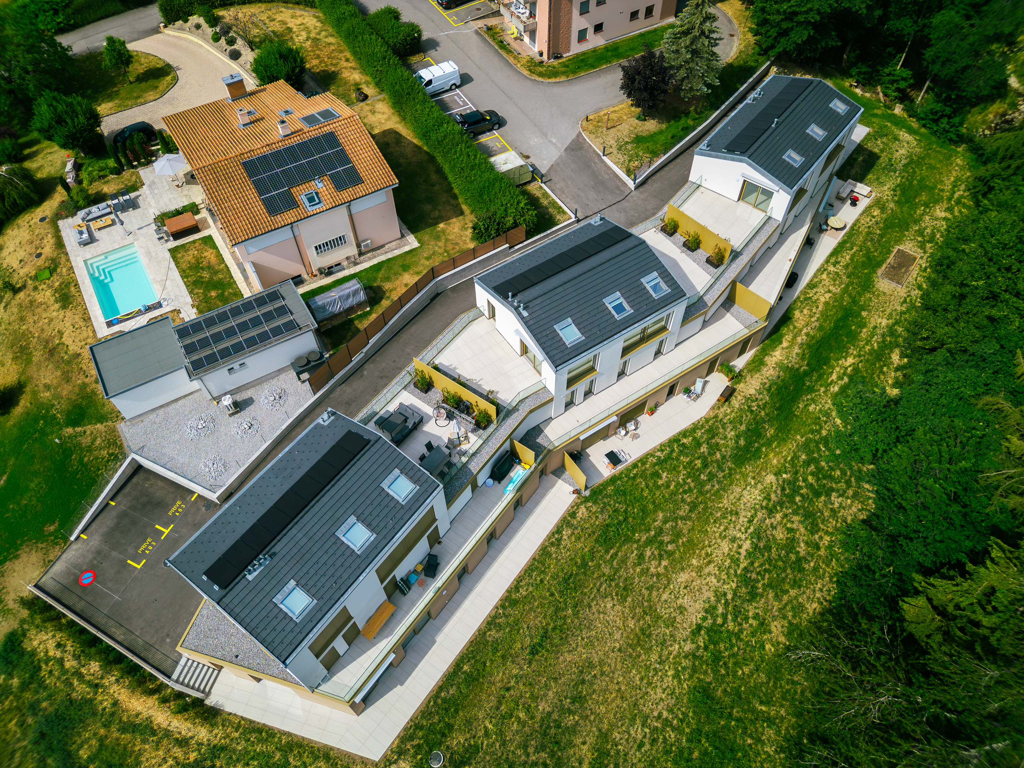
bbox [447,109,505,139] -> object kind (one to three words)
car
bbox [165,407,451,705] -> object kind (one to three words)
building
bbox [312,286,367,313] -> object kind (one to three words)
greenhouse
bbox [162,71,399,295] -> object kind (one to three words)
house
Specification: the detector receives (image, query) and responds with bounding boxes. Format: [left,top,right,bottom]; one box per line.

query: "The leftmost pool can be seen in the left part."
[84,243,162,328]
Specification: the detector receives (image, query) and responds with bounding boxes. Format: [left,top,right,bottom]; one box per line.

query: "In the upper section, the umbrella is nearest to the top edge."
[152,156,190,187]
